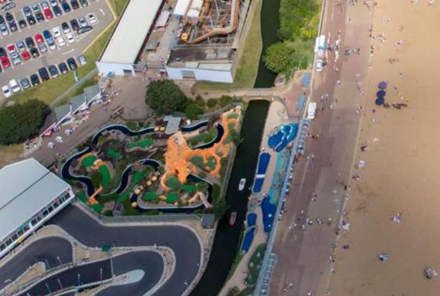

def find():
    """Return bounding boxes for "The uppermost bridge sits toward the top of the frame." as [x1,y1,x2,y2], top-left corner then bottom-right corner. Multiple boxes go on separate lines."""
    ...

[236,81,281,103]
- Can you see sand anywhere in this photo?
Yes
